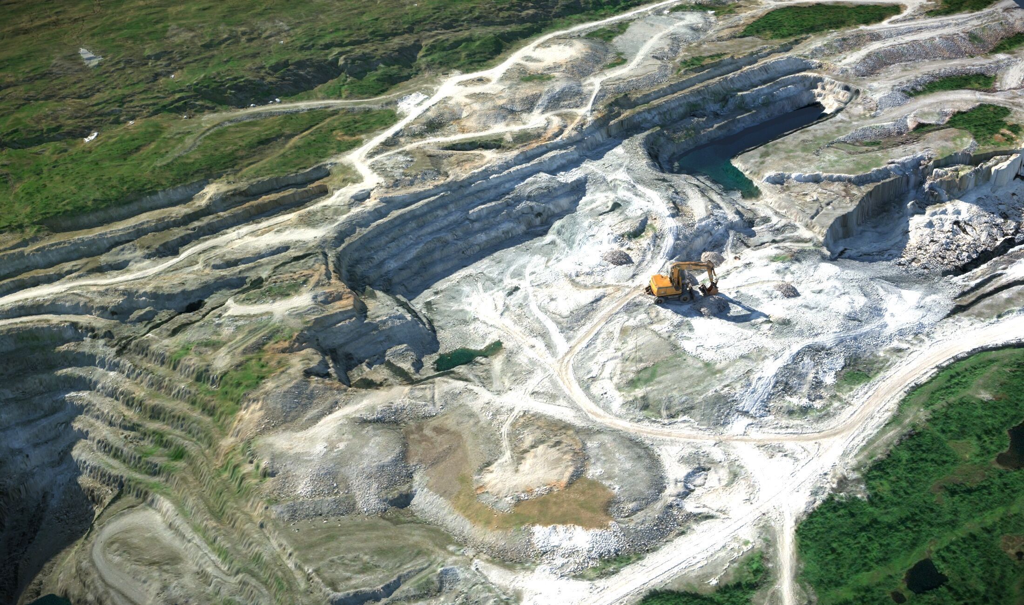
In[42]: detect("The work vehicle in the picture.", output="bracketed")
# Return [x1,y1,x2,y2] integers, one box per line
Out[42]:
[639,259,722,307]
